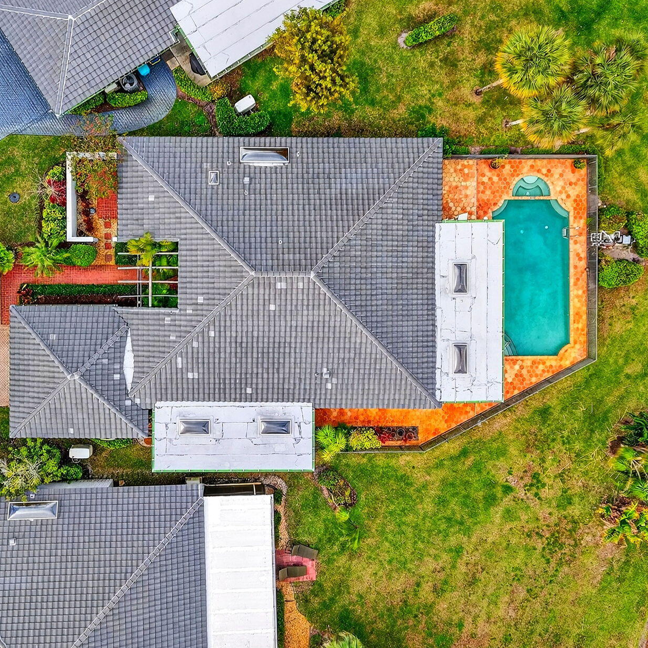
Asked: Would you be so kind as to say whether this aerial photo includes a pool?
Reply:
Yes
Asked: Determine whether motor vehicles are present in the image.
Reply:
No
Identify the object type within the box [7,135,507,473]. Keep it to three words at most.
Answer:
house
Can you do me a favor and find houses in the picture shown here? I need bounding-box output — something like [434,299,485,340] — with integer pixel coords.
[0,474,280,648]
[0,0,342,118]
[7,135,507,473]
